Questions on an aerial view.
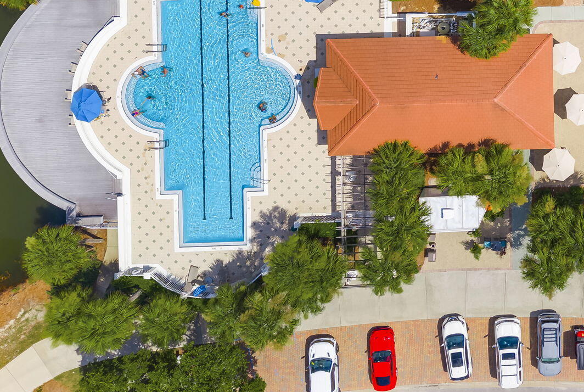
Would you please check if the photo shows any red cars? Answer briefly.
Yes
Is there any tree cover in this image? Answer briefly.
Yes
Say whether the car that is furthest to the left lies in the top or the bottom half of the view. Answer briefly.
bottom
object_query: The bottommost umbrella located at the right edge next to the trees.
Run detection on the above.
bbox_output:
[542,147,575,180]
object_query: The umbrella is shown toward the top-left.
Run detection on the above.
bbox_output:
[74,88,110,120]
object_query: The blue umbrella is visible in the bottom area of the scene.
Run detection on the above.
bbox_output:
[198,277,216,293]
